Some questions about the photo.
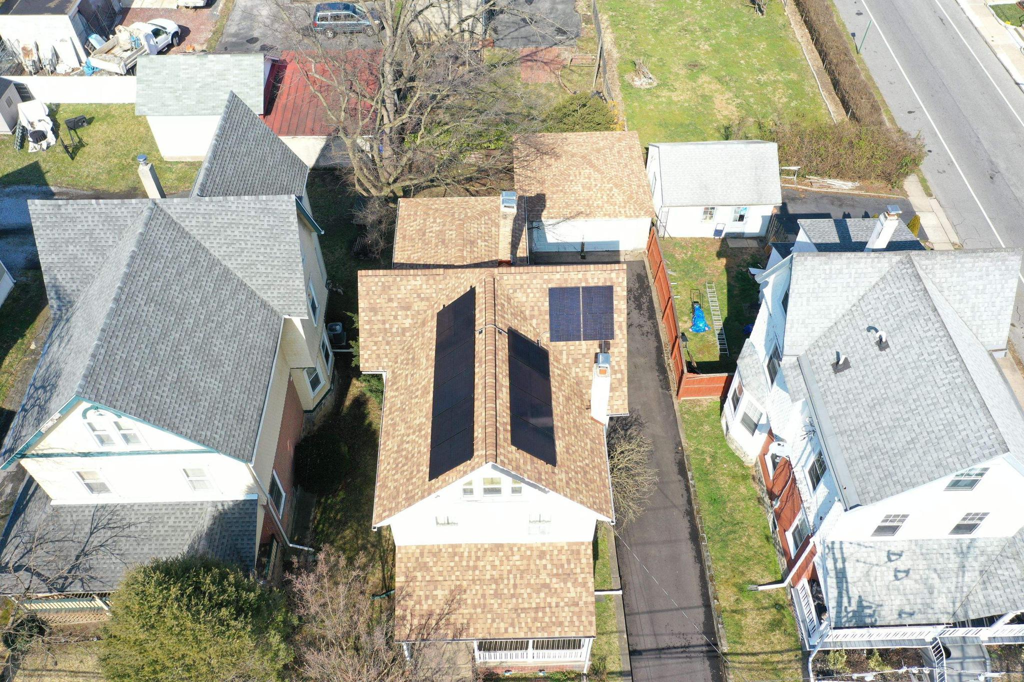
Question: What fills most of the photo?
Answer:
buildings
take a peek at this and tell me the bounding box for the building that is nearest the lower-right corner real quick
[711,201,1024,682]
